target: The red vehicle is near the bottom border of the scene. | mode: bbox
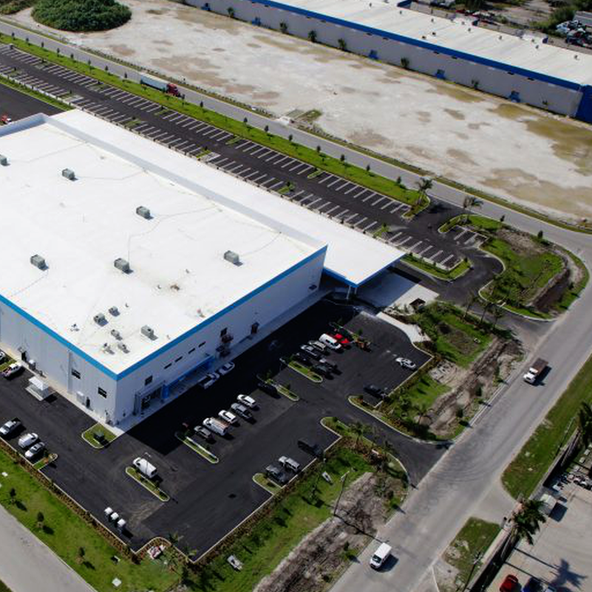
[497,572,520,592]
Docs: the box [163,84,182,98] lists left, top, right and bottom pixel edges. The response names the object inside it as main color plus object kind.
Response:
red vehicle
